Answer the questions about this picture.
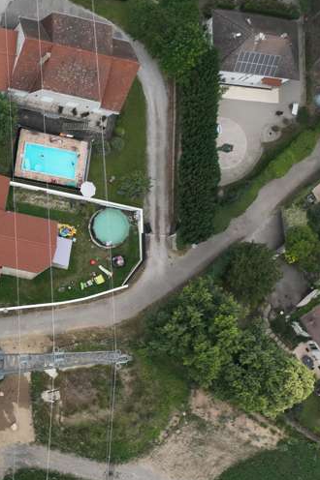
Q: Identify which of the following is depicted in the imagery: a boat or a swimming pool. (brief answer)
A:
swimming pool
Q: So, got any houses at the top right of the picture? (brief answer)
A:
Yes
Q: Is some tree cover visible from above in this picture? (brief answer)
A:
Yes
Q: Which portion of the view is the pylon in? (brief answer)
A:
bottom left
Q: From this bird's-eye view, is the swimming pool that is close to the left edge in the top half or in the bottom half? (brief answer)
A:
top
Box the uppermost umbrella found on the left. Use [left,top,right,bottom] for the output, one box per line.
[78,181,96,197]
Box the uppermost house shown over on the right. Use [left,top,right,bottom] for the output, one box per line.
[201,9,299,102]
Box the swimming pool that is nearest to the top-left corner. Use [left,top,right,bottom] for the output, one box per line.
[12,128,91,186]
